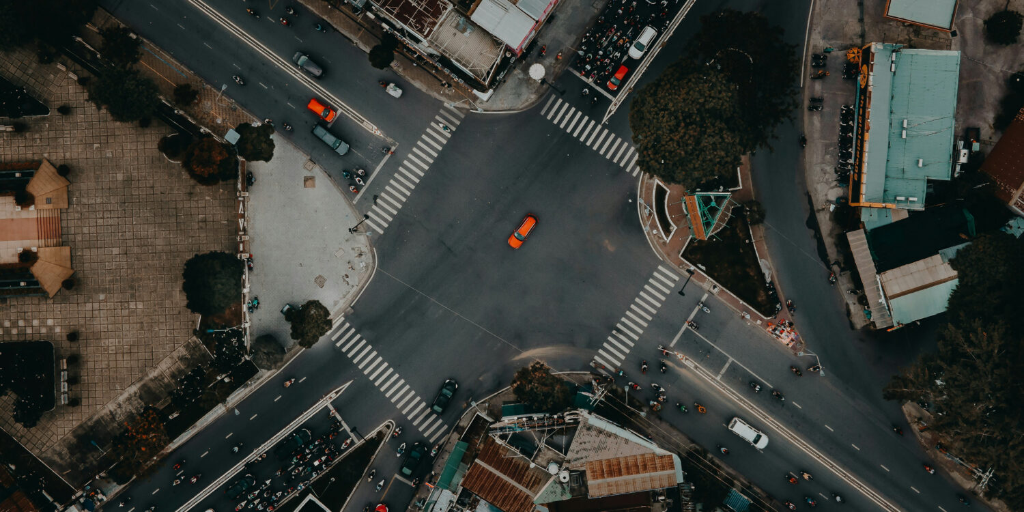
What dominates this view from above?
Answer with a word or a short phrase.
paved ground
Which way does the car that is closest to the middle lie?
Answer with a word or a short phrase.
at an angle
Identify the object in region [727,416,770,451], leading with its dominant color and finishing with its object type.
white car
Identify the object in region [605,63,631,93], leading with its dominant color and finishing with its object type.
red car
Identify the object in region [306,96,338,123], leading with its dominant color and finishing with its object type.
red car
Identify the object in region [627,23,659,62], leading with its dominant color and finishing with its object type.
white car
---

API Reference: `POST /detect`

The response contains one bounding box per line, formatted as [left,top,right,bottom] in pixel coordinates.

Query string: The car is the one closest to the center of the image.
[507,212,539,250]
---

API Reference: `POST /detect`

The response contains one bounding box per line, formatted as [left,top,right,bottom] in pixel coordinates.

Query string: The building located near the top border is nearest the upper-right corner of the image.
[881,0,959,34]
